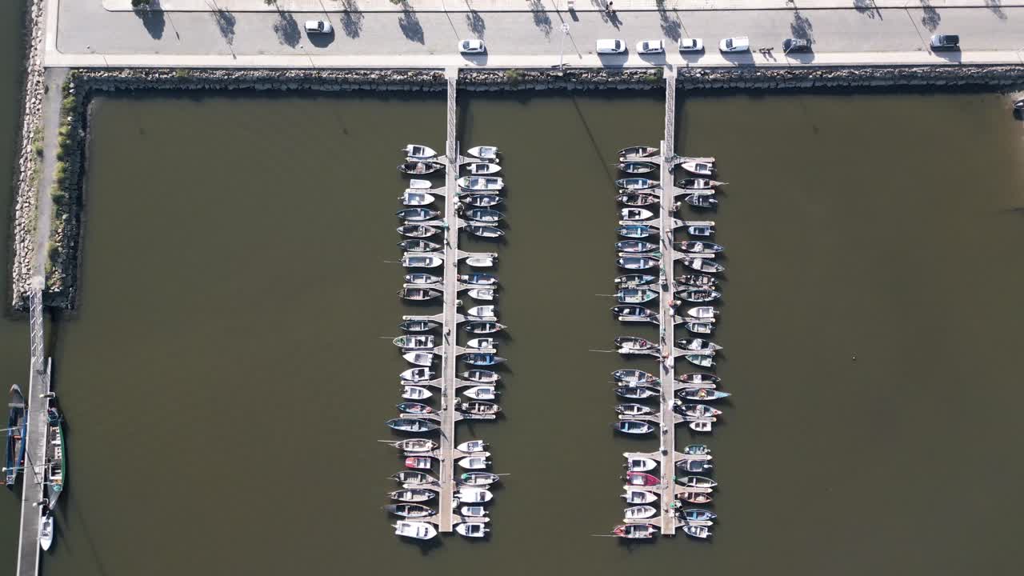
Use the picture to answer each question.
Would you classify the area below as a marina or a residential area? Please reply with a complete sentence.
This looks like a marina.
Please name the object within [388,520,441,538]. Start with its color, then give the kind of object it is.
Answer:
white boat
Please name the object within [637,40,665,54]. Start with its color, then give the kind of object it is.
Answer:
white car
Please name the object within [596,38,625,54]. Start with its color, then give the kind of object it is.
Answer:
white vehicle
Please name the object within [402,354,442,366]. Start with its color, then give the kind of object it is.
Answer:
white boat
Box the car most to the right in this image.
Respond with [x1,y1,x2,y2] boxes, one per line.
[929,34,960,49]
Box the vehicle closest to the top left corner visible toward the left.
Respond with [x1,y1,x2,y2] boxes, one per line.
[305,19,333,35]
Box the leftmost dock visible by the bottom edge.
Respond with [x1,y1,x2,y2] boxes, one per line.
[17,356,53,576]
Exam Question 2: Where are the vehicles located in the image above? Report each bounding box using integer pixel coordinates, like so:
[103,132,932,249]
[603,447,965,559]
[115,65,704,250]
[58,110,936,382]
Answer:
[718,37,750,52]
[677,38,702,52]
[596,38,625,54]
[781,38,811,53]
[459,39,486,54]
[929,34,960,49]
[305,19,333,35]
[637,40,665,54]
